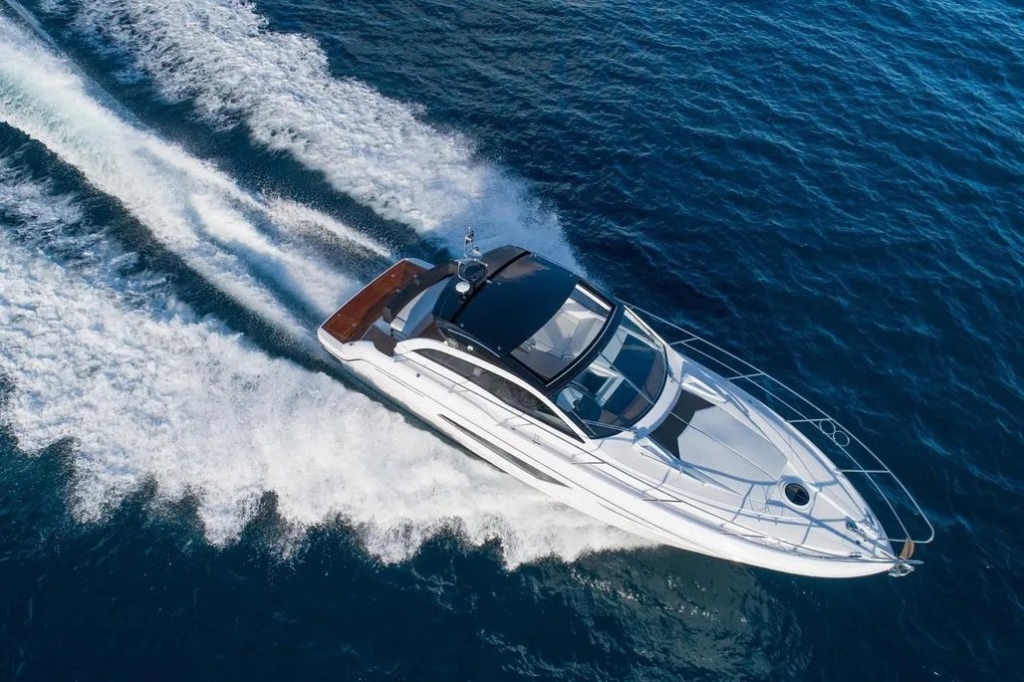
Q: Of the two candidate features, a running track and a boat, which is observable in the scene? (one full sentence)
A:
The image shows a boat.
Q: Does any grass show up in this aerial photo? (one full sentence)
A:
No, the picture contains no grass.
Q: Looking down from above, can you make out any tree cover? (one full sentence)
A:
No, there's no tree cover in this view.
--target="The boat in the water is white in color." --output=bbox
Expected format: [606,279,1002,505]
[318,222,935,575]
